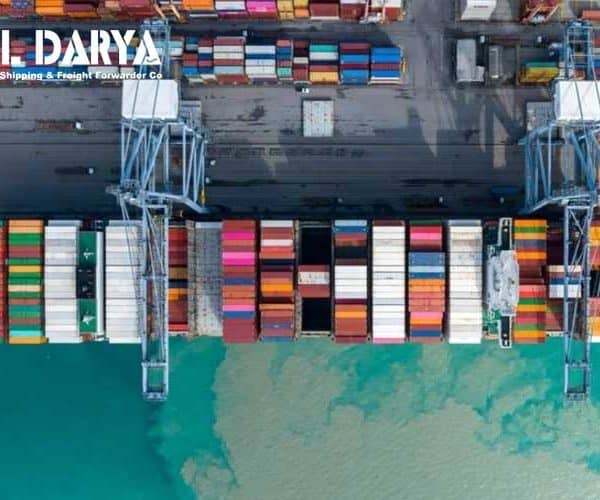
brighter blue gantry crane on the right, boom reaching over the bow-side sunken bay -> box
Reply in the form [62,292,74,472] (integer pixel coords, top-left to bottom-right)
[511,12,600,403]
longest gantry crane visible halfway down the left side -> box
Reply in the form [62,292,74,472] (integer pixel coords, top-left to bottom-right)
[107,12,215,403]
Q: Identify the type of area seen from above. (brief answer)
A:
port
